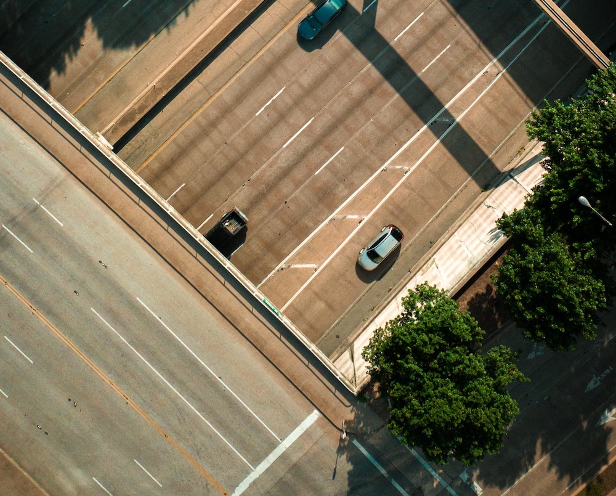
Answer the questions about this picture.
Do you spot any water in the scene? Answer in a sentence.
No, the scene doesn't show any water.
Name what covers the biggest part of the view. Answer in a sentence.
The scene is dominated by paved ground.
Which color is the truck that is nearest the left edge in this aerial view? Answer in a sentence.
From above, the truck that is nearest the left edge appears black.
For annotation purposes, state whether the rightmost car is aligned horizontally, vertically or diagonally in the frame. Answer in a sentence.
From this overhead view, the rightmost car appears to run diagonally.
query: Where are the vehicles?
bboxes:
[361,225,405,270]
[301,0,349,40]
[199,205,251,256]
